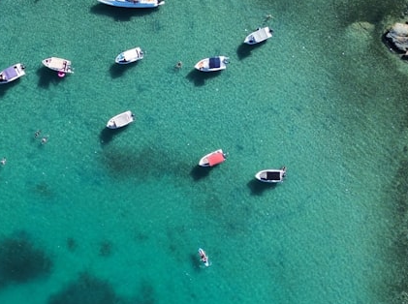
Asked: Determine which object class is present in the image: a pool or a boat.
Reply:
boat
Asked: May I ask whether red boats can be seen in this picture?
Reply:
Yes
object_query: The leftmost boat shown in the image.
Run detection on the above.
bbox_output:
[0,63,28,83]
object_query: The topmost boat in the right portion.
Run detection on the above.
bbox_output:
[243,27,274,43]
